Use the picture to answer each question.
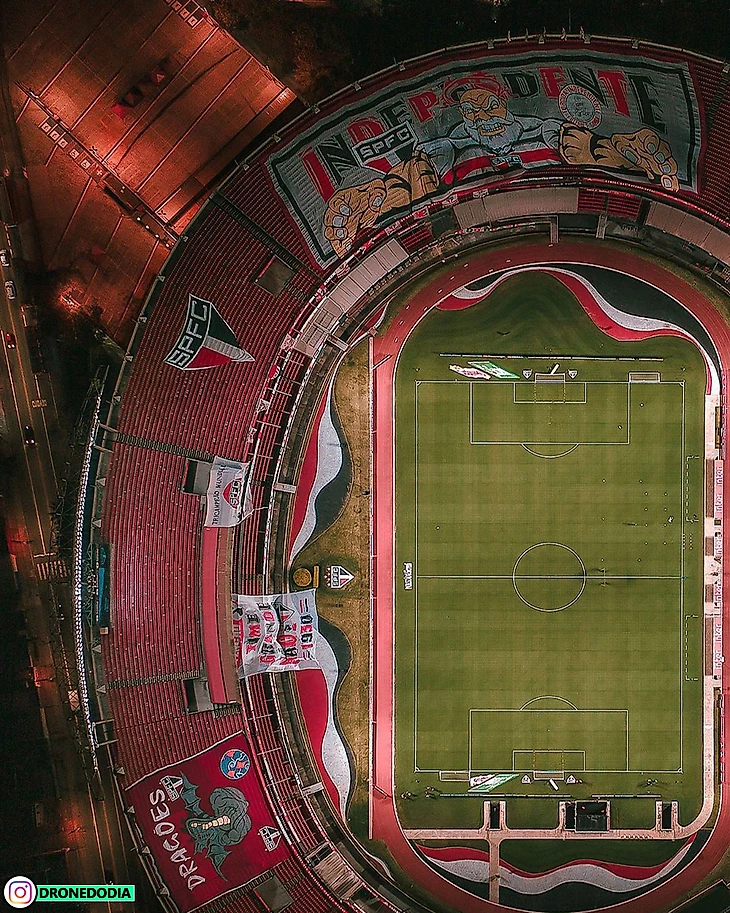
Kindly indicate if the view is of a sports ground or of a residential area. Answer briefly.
sports ground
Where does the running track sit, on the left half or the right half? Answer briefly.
right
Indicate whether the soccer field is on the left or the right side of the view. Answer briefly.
right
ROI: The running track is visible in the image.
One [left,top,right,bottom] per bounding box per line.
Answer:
[373,242,730,913]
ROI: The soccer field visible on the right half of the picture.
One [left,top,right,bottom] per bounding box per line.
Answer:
[398,357,705,797]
